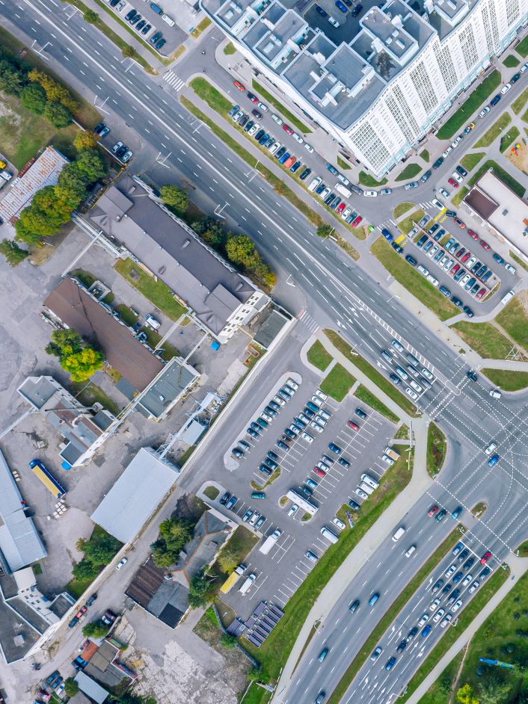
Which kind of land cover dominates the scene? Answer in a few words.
paved ground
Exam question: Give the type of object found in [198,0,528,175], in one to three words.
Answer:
building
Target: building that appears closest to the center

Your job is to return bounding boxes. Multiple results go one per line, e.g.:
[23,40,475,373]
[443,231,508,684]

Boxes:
[253,309,291,348]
